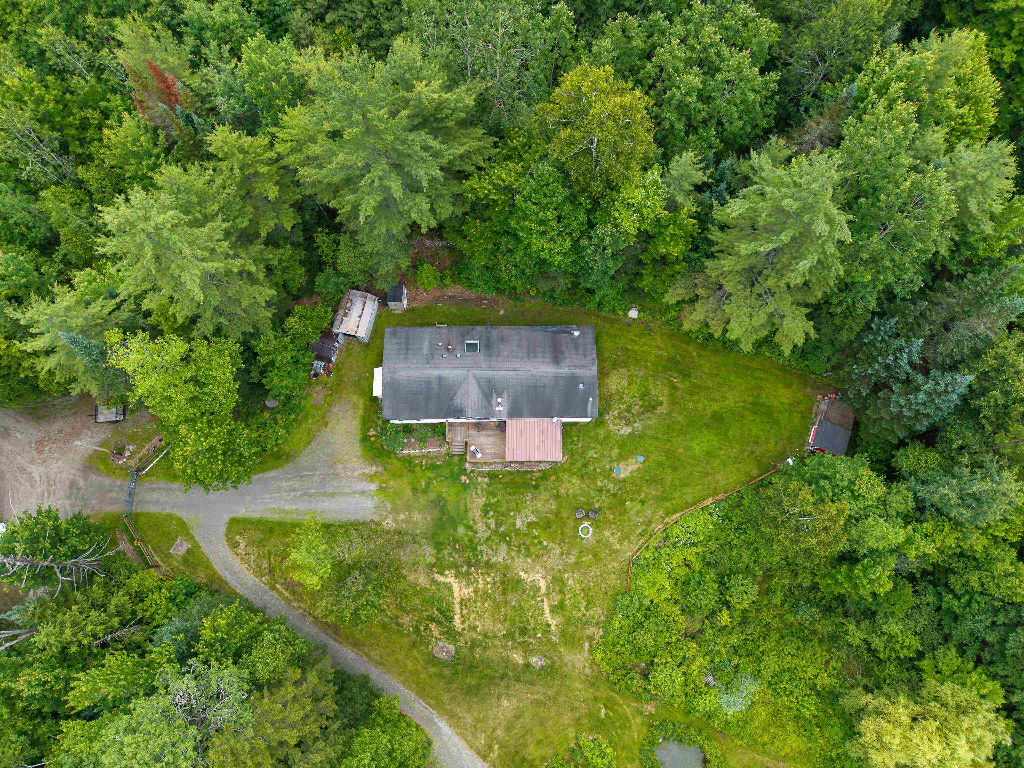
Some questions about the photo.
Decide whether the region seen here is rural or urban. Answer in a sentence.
The area shown here is rural.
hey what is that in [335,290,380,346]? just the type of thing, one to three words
shed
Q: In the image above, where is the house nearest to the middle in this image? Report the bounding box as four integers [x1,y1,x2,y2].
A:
[373,320,598,424]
